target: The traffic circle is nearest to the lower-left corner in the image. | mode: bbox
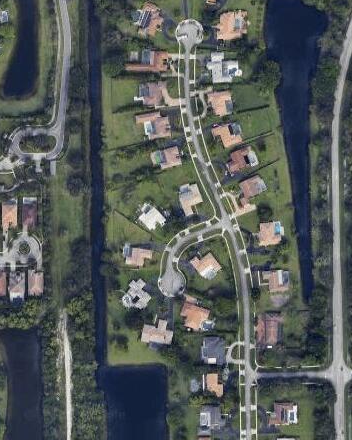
[8,233,40,264]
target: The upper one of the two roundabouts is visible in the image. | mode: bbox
[11,126,65,160]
